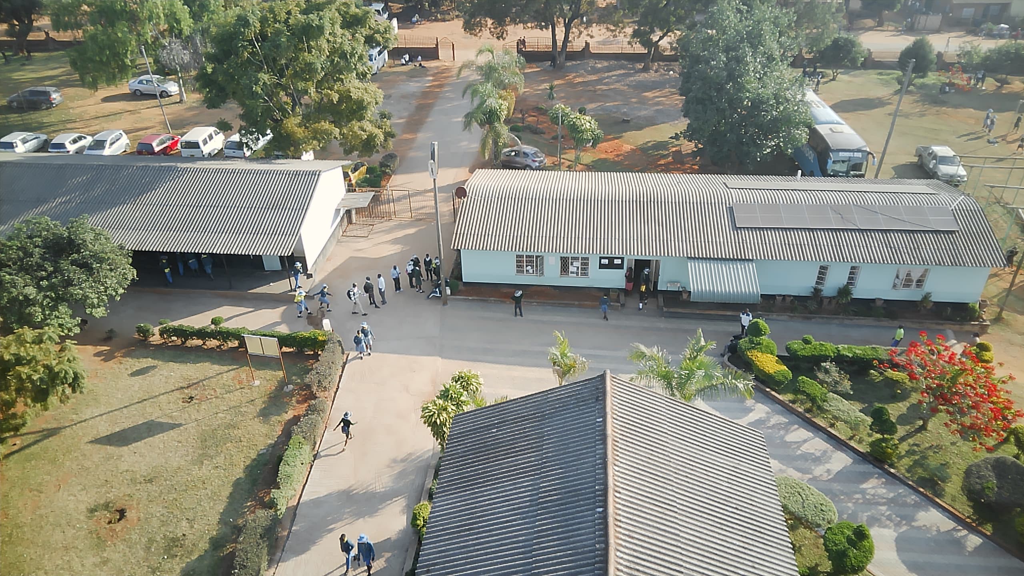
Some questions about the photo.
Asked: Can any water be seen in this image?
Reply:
No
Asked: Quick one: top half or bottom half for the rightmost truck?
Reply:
top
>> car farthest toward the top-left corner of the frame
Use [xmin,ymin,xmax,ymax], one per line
[0,86,66,111]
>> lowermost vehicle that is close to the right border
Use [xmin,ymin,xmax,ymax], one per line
[911,143,979,187]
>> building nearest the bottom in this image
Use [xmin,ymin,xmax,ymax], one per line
[413,369,805,576]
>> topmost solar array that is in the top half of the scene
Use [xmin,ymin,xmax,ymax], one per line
[719,176,930,189]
